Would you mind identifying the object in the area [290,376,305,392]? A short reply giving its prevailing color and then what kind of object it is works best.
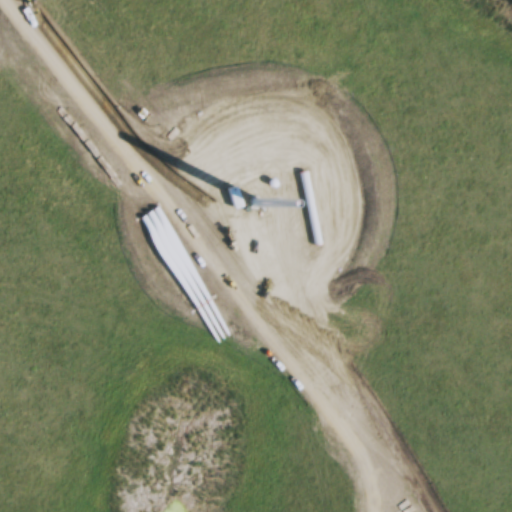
white vehicle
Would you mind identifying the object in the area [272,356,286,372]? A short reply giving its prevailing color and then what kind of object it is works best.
white vehicle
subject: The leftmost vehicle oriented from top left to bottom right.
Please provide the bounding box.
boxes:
[20,2,39,28]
